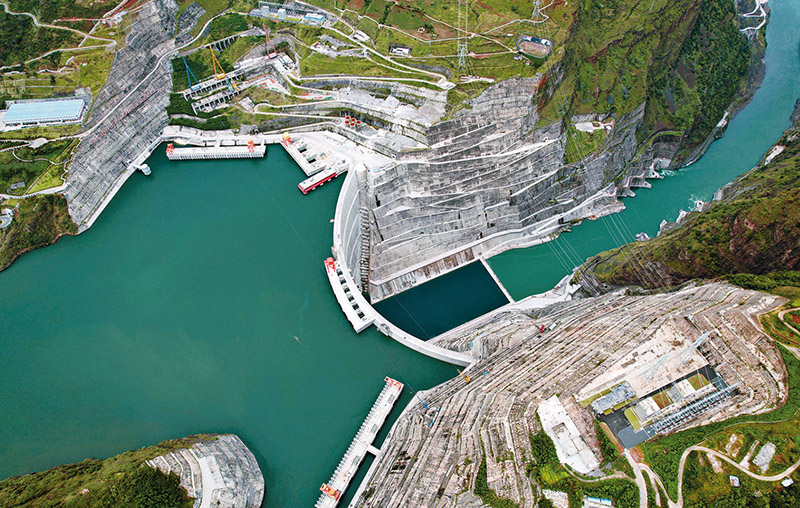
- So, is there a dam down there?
Yes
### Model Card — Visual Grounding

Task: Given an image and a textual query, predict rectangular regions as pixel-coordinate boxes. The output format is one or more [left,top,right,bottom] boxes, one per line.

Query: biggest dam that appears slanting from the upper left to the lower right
[318,166,484,370]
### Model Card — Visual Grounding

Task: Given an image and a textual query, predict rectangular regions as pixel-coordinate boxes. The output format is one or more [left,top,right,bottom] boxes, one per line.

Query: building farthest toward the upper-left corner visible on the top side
[1,94,91,129]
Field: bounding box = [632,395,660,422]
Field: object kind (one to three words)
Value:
building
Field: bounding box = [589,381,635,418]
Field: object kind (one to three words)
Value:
building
